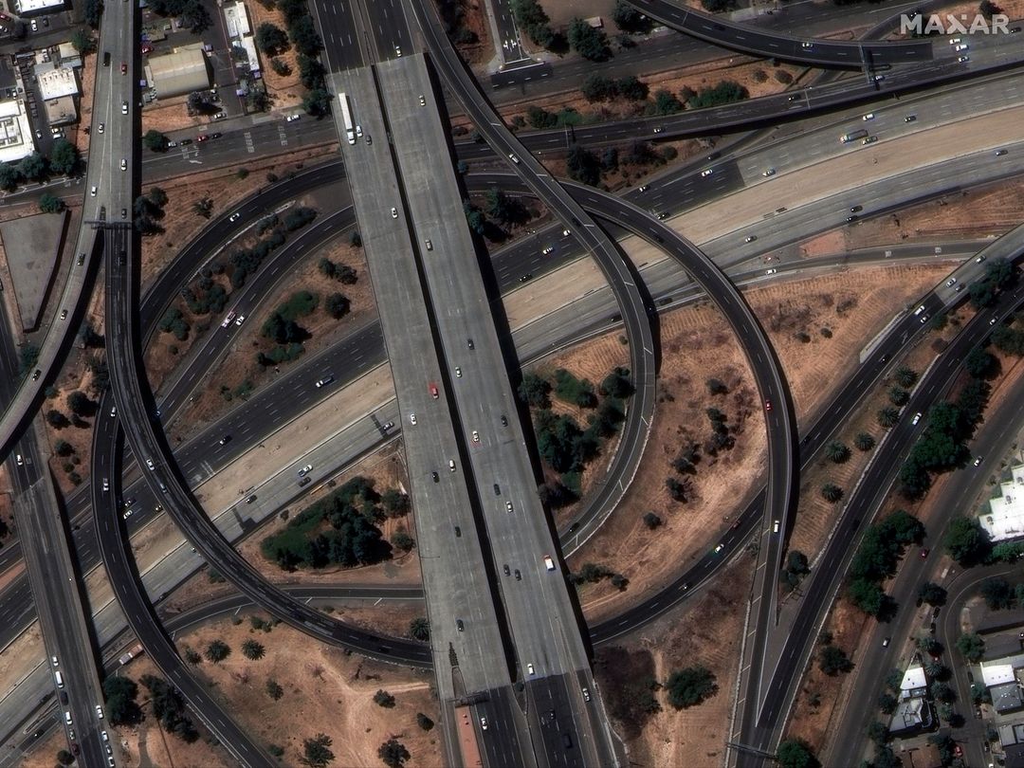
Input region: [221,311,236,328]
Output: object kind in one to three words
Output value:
vehicle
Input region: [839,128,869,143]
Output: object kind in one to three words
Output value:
vehicle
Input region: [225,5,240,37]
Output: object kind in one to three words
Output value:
shed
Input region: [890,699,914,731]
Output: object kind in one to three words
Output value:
house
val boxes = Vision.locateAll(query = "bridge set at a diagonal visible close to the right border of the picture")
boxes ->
[864,223,1024,389]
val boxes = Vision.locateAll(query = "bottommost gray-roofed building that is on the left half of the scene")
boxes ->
[0,210,67,331]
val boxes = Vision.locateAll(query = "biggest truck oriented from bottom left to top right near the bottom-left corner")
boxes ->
[113,645,144,667]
